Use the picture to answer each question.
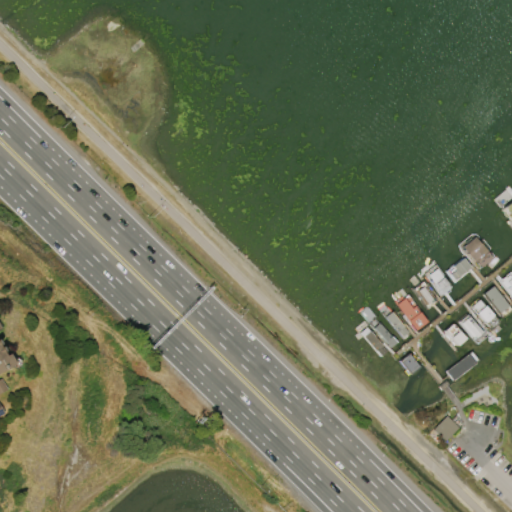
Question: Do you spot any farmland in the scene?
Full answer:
No, no farmland is visible.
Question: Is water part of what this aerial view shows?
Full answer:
Yes, some water is visible.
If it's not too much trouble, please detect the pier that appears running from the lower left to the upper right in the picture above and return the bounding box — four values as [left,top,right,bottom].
[394,256,512,354]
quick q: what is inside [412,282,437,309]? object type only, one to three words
house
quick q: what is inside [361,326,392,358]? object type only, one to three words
house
